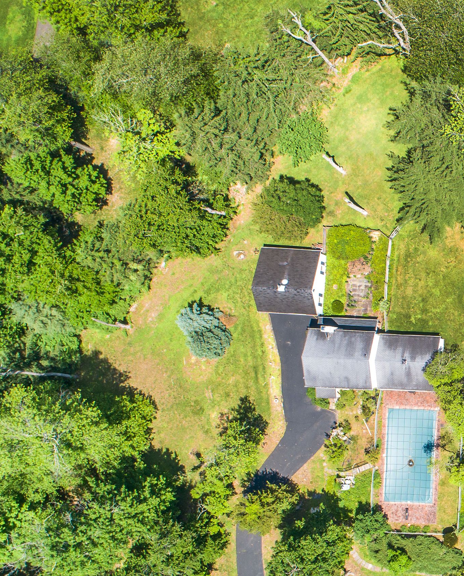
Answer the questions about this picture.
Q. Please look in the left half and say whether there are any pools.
No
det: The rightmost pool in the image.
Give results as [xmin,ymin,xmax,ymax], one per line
[382,404,440,509]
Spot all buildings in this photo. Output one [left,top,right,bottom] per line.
[302,326,441,403]
[252,247,327,316]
